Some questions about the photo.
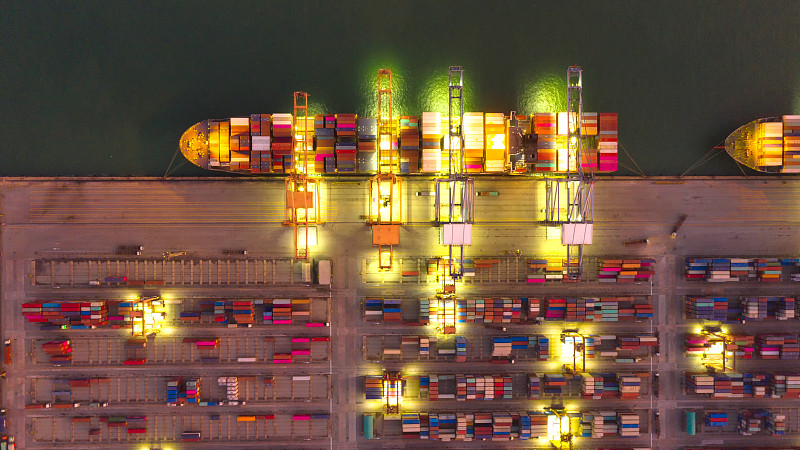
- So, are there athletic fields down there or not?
No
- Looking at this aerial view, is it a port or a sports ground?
port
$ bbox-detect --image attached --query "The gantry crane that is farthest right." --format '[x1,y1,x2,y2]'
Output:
[702,328,738,373]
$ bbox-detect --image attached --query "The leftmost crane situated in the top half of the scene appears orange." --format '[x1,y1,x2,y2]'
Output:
[282,91,327,257]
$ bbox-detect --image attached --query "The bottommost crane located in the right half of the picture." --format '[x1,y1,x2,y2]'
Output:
[547,406,573,450]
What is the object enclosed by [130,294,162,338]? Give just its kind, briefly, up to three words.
container crane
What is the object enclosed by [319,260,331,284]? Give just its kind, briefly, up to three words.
shed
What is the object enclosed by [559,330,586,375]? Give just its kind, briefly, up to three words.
container crane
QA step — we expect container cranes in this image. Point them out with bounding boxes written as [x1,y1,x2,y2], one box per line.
[438,253,457,296]
[430,66,473,279]
[367,68,405,268]
[438,294,457,338]
[282,91,327,257]
[383,370,402,419]
[539,66,598,279]
[702,328,738,373]
[130,294,162,338]
[547,406,573,450]
[559,330,586,375]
